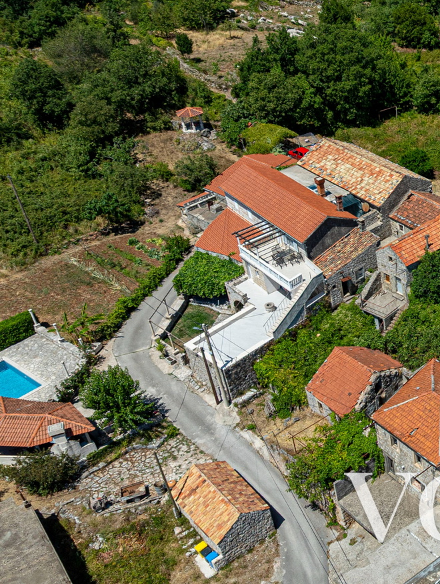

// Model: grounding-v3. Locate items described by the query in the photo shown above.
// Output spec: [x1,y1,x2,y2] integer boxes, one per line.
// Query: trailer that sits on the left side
[96,477,149,503]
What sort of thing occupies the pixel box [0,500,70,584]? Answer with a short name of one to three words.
house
